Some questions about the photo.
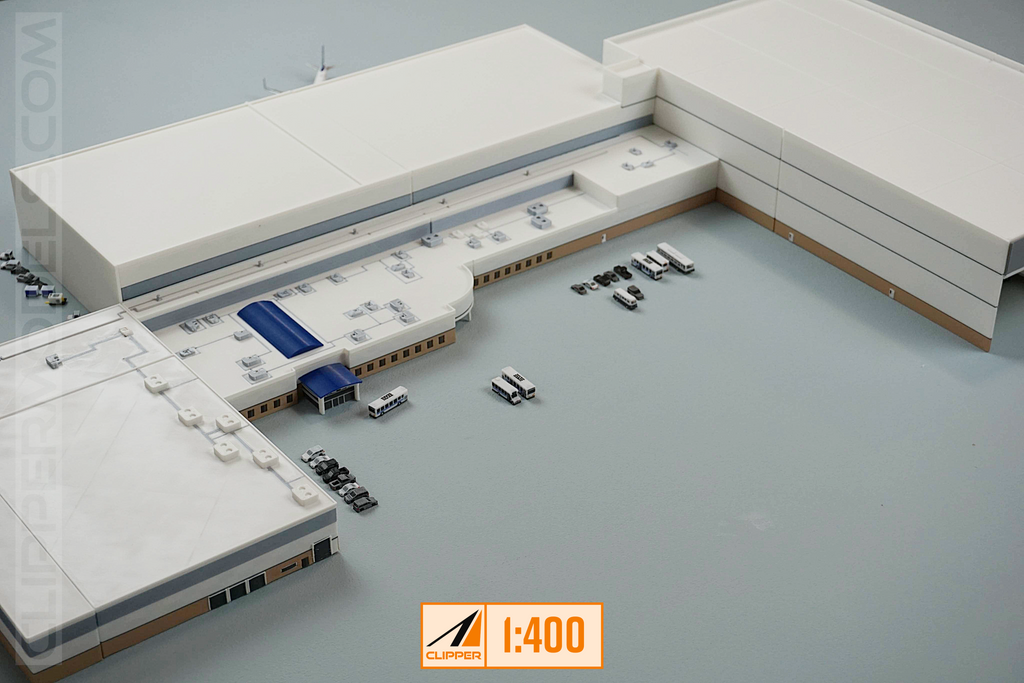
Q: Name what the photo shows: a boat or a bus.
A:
bus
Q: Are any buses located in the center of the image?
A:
Yes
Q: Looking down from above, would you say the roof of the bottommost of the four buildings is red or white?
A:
white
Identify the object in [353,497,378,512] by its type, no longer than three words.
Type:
car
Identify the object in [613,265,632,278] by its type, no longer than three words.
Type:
vehicle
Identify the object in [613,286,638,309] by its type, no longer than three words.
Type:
bus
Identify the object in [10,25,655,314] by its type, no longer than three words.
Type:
hangar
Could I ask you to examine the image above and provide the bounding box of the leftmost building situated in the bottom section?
[0,305,338,683]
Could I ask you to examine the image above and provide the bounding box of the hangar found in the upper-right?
[601,0,1024,351]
